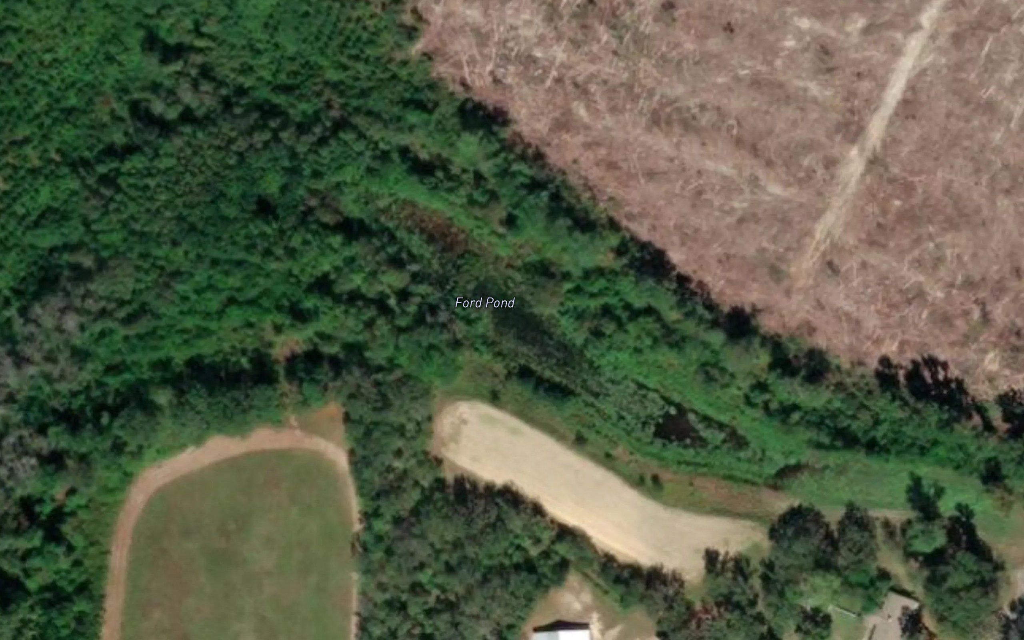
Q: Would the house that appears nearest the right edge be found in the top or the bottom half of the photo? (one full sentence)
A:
The bottom half of the photo is where the house that appears nearest the right edge is.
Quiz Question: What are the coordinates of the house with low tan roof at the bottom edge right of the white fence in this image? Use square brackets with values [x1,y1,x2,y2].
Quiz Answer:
[874,592,919,640]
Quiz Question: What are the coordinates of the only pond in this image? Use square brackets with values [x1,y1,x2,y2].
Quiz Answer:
[481,288,744,450]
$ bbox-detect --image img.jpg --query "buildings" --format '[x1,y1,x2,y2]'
[874,592,919,640]
[533,632,590,640]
